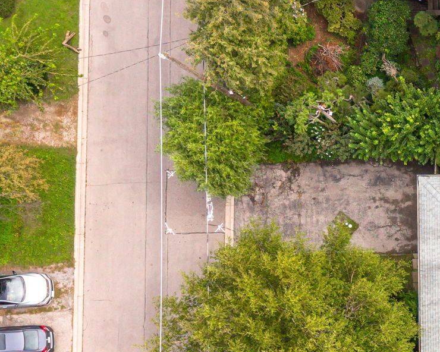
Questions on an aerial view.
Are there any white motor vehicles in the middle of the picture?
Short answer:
No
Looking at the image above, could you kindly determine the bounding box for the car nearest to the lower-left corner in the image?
[0,323,55,352]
